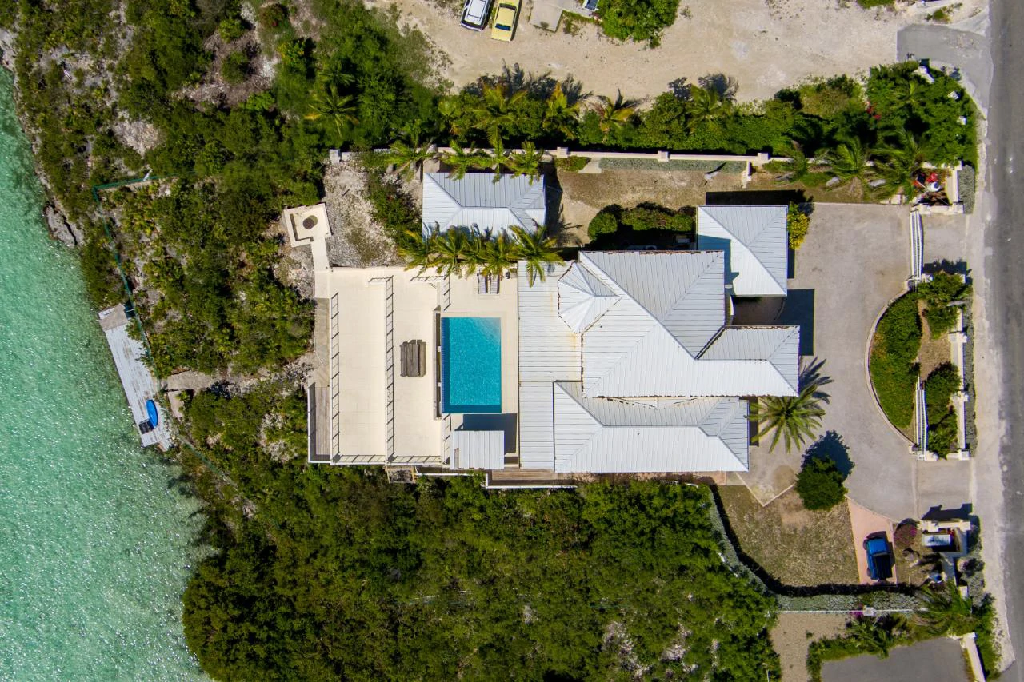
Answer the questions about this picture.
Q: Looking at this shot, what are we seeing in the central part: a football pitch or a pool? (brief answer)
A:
pool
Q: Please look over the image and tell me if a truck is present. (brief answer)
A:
No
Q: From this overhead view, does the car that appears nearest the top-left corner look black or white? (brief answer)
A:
white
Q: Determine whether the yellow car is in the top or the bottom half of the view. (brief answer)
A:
top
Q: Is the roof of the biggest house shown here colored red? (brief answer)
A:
No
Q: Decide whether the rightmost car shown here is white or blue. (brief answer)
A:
blue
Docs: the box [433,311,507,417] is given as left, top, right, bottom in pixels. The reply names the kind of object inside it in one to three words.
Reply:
swimming pool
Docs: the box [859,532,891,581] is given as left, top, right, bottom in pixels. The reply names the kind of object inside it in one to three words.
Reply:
car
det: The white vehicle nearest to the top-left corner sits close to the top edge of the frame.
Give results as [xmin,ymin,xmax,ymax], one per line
[459,0,493,34]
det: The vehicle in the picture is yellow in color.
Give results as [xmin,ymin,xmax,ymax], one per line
[492,0,524,44]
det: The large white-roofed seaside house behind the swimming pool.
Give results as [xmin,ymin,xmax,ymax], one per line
[518,249,801,473]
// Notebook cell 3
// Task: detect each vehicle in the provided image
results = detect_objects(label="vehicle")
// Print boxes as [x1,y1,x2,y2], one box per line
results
[459,0,493,34]
[859,532,891,581]
[492,0,524,44]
